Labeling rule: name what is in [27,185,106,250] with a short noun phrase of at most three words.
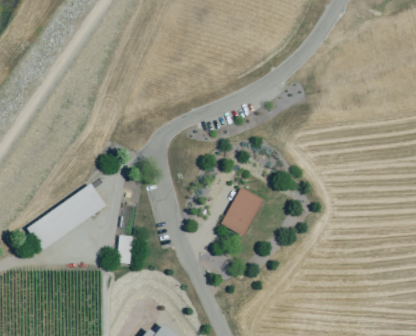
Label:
barn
